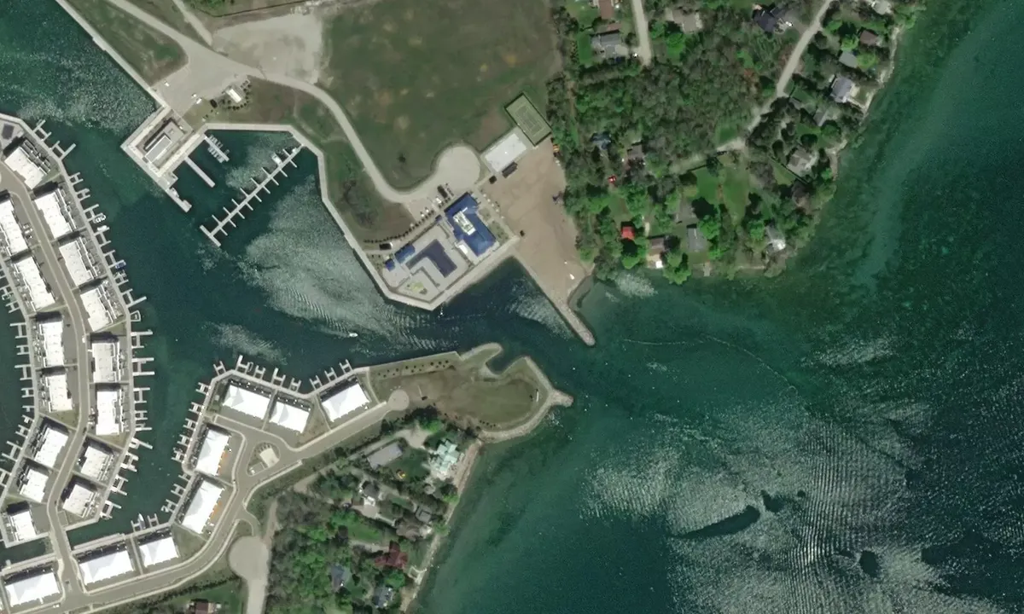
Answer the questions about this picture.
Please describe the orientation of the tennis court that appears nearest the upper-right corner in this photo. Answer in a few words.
at an angle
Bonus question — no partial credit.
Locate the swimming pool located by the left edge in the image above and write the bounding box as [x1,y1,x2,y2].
[1,124,14,140]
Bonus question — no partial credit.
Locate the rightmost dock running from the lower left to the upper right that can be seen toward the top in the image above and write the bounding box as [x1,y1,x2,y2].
[200,144,304,247]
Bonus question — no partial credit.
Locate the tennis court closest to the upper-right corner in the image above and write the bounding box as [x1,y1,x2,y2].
[504,92,549,145]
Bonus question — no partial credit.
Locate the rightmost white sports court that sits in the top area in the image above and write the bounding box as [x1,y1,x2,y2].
[484,132,527,171]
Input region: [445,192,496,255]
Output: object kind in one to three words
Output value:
building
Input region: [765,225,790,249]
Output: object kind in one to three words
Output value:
house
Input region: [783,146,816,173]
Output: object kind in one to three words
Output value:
house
